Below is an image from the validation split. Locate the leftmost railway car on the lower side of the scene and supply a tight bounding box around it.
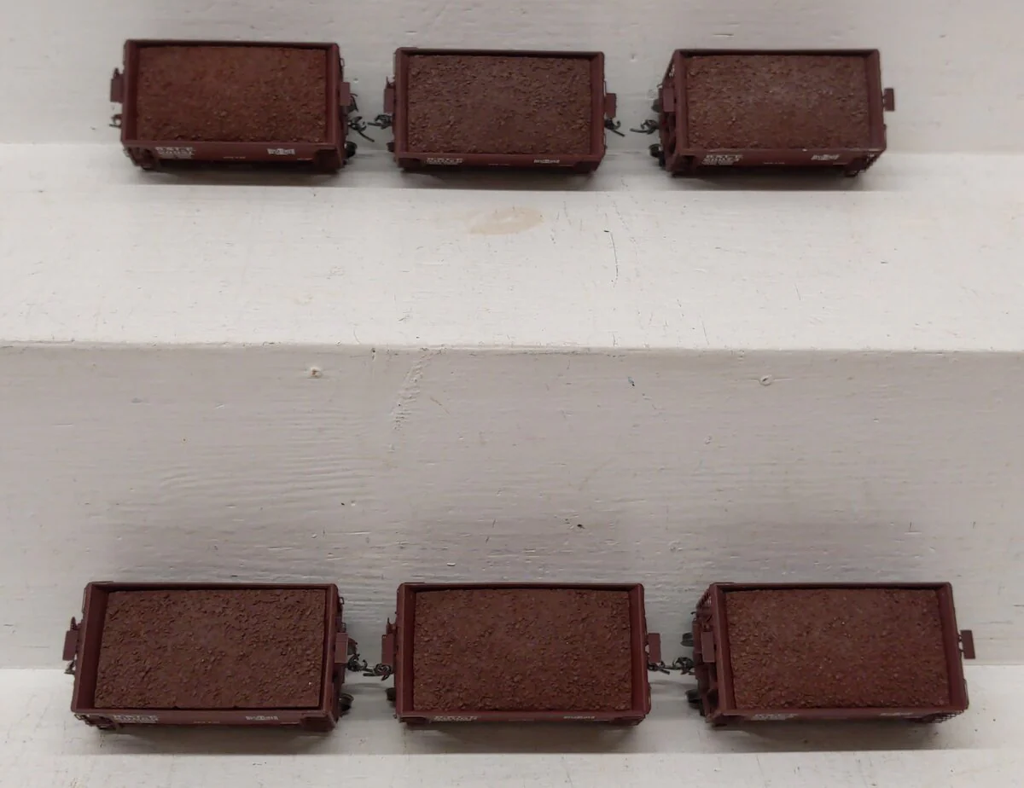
[62,584,376,726]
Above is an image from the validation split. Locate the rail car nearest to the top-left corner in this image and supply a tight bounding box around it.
[111,44,374,170]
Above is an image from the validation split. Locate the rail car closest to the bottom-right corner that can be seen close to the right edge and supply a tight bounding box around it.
[663,584,978,725]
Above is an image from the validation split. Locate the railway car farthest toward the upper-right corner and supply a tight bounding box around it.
[635,52,897,175]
